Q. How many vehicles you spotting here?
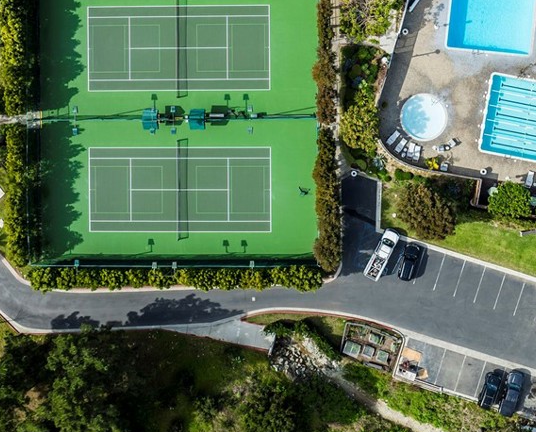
4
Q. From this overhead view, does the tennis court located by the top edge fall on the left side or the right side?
left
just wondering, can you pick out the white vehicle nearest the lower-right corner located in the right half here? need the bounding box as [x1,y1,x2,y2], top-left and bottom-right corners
[366,232,397,279]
